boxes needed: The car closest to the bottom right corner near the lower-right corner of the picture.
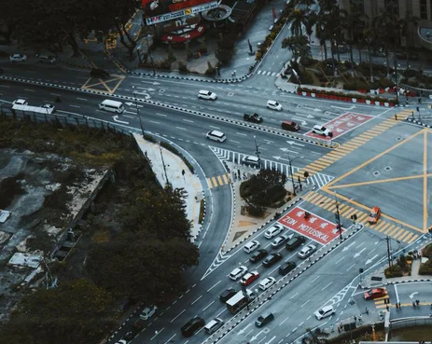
[362,288,387,300]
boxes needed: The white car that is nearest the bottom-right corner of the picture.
[314,303,337,322]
